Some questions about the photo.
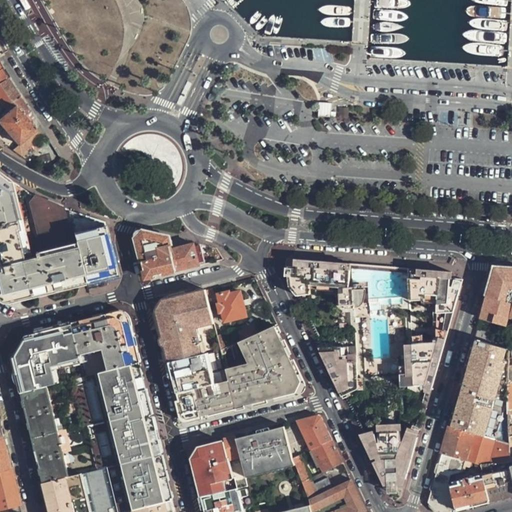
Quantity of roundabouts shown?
2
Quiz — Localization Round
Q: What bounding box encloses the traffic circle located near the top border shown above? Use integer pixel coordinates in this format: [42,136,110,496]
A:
[195,10,244,59]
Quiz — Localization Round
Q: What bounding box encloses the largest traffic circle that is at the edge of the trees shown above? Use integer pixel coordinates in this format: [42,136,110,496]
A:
[96,112,206,222]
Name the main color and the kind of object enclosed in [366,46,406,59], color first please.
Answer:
white boat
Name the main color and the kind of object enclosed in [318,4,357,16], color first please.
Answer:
white boat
